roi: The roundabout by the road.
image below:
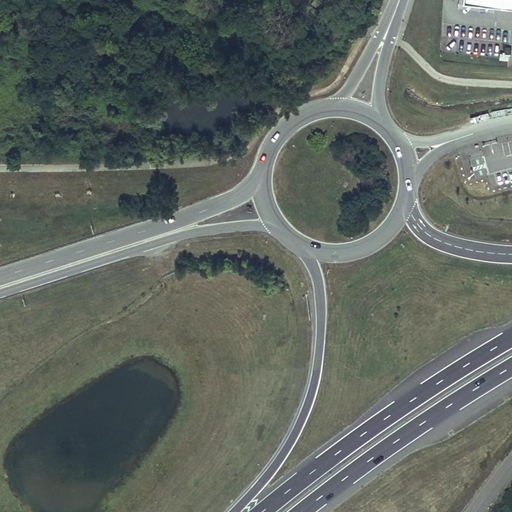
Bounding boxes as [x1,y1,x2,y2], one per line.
[199,50,428,264]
